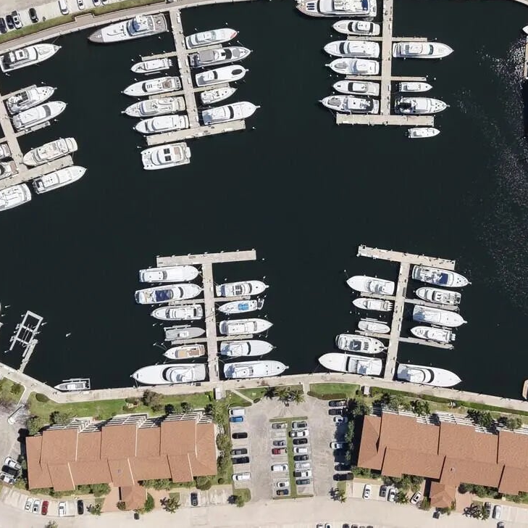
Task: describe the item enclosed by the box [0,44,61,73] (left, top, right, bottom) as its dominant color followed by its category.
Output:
white boat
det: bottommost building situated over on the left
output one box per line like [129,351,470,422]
[25,409,223,500]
